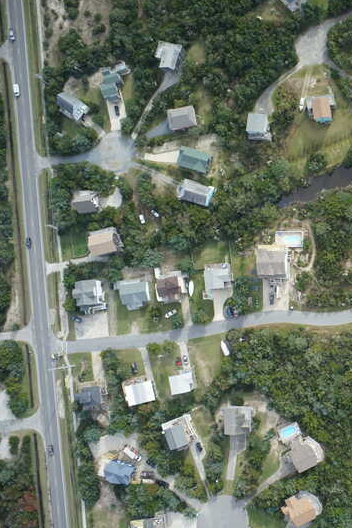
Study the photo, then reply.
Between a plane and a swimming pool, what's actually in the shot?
swimming pool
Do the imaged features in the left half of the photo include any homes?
Yes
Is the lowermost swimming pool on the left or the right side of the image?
right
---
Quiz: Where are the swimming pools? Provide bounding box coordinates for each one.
[275,230,302,248]
[277,423,303,445]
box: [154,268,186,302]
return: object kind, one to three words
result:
house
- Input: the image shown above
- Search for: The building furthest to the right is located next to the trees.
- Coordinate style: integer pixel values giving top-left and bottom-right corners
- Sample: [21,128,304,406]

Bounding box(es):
[307,95,337,125]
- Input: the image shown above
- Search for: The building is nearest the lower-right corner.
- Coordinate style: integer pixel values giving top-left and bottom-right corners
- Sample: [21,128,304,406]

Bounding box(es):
[279,490,322,526]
